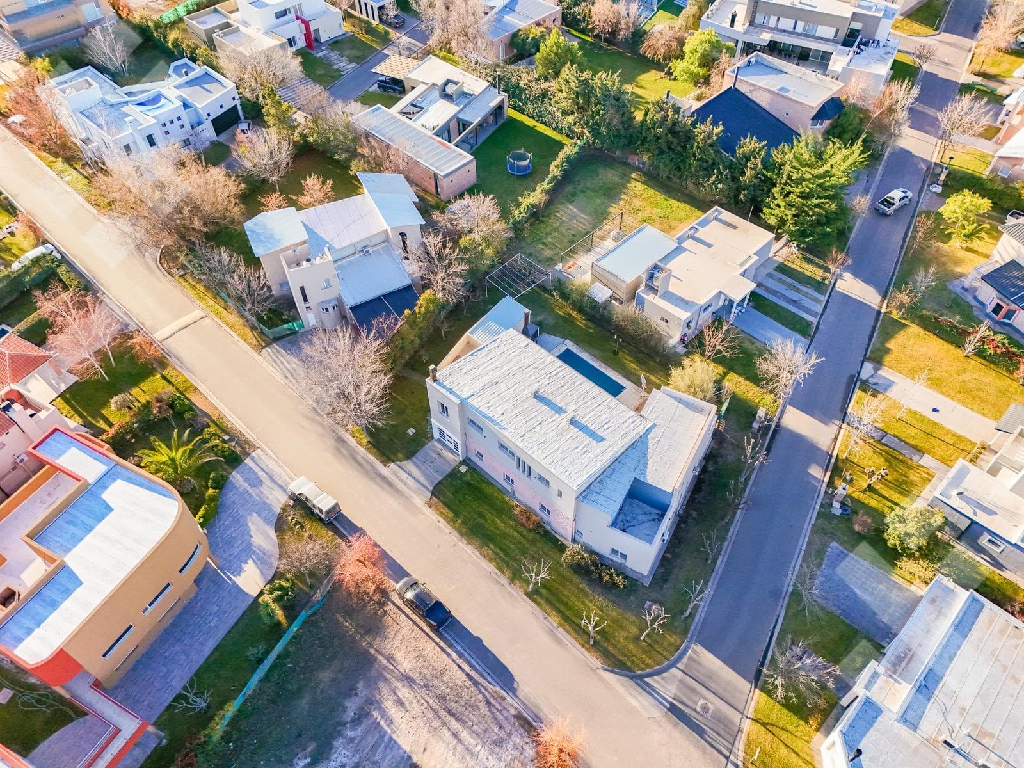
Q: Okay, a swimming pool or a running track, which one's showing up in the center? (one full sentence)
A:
Looking in the center, you will find a swimming pool.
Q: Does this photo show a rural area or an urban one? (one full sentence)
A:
The area is urban.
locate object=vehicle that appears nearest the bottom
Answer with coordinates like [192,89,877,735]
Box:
[391,573,455,636]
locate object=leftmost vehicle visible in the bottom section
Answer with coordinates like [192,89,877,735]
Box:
[288,475,342,527]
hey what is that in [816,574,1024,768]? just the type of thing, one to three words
house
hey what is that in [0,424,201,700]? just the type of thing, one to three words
house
